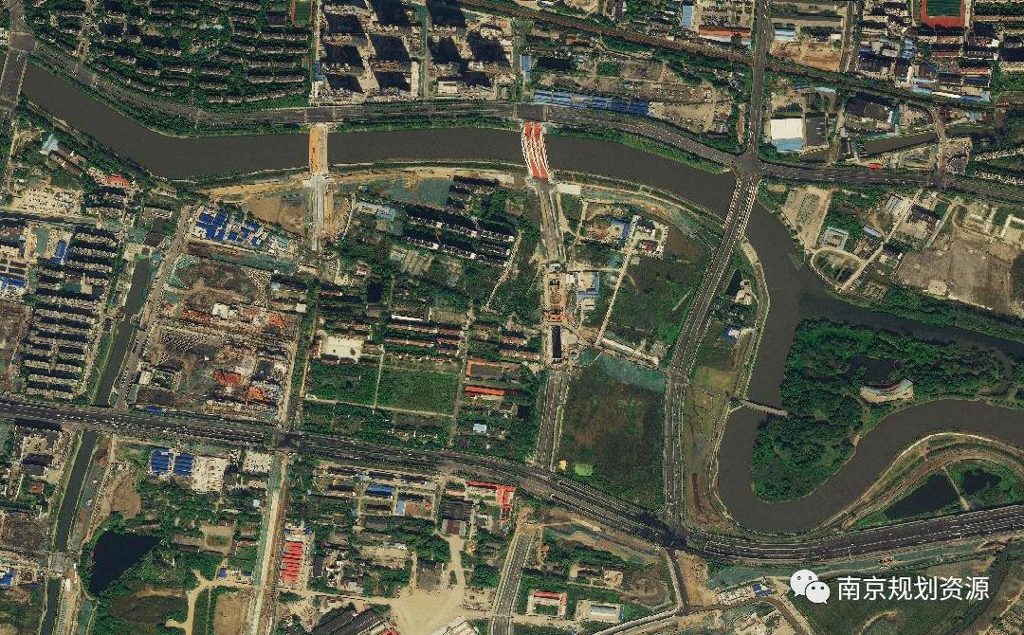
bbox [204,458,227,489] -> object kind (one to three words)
building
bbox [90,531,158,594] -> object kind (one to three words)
pond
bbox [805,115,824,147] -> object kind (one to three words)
building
